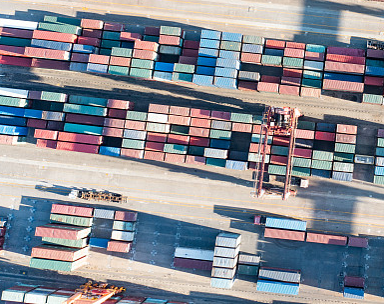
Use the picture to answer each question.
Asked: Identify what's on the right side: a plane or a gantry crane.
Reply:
gantry crane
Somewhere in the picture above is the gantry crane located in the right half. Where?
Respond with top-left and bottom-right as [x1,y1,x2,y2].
[254,102,308,198]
